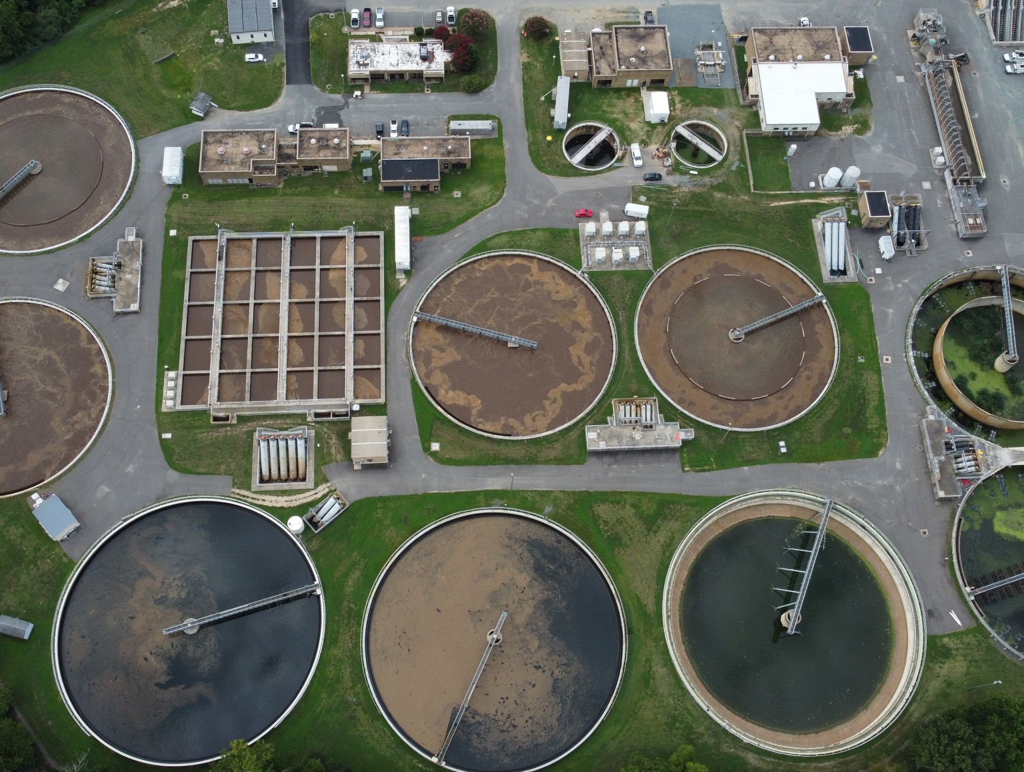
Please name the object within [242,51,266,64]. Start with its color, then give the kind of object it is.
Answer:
white vehicle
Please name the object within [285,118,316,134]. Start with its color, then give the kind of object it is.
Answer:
white vehicle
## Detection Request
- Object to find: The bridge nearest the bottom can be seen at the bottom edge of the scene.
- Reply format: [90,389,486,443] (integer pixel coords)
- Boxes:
[437,611,507,762]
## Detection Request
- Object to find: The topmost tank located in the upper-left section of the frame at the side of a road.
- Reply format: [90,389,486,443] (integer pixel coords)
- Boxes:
[0,83,137,255]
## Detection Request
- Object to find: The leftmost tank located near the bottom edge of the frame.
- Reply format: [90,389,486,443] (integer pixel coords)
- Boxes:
[50,494,325,765]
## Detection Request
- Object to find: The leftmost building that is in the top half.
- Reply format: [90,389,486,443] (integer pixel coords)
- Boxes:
[84,228,152,315]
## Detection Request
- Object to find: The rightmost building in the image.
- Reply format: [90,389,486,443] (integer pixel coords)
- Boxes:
[914,404,1024,500]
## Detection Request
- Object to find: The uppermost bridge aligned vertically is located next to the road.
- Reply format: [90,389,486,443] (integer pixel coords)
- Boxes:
[998,264,1021,366]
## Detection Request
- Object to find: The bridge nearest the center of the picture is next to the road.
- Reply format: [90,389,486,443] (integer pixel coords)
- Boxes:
[413,309,539,349]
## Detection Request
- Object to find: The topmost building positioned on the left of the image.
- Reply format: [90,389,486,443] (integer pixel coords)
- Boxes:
[230,0,282,44]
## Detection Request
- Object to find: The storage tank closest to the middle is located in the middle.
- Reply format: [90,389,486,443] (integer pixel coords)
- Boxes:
[409,247,617,439]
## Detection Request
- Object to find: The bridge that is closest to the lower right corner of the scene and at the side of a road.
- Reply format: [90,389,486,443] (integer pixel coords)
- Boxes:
[963,568,1024,598]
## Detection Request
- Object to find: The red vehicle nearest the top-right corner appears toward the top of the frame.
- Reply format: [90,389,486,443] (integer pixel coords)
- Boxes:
[574,207,594,219]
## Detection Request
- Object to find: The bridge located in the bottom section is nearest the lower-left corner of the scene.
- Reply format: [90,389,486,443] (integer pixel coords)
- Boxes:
[162,584,322,635]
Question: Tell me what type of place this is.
industrial area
